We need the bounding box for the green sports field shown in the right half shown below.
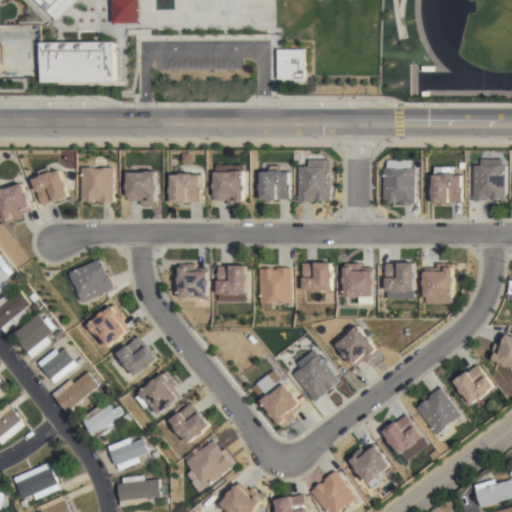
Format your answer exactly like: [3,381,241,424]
[276,0,380,76]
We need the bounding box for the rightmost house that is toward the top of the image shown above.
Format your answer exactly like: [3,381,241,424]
[472,158,506,202]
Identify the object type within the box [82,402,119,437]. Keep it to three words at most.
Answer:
house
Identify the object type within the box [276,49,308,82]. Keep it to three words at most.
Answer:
building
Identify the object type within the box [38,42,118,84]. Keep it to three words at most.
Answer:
building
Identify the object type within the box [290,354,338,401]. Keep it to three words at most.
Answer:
house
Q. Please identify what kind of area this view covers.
residential area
